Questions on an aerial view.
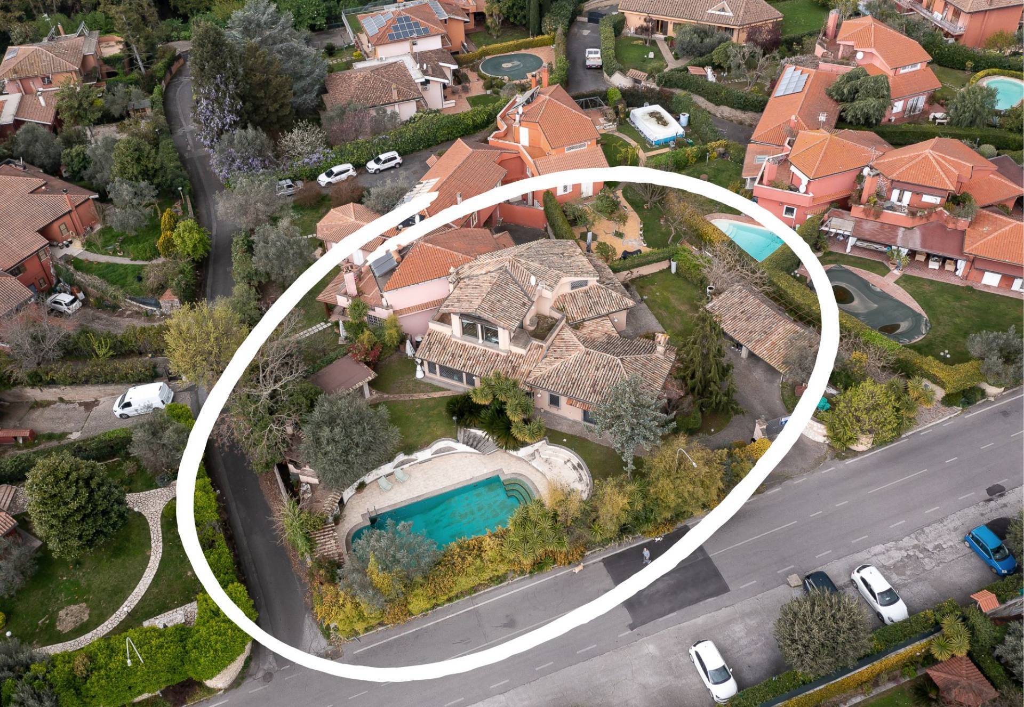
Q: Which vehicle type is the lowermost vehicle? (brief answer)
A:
car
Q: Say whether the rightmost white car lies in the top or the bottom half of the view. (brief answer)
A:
bottom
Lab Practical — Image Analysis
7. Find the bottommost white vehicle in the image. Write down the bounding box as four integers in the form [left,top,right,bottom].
[688,638,738,704]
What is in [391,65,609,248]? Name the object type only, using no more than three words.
house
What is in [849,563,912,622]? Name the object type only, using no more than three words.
car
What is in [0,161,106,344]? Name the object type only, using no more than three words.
house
